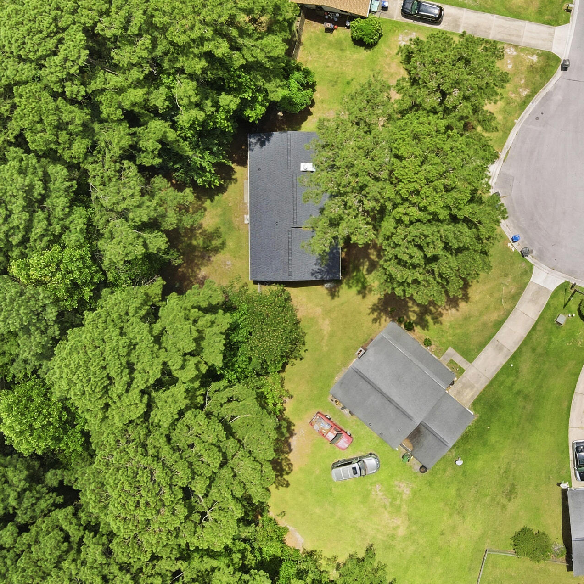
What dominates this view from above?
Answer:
trees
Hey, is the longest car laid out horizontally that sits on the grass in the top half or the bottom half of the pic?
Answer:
bottom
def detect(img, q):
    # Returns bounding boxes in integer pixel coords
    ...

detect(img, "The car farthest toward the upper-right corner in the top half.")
[400,0,445,25]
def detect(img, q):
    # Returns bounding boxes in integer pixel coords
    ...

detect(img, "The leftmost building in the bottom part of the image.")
[330,322,474,470]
